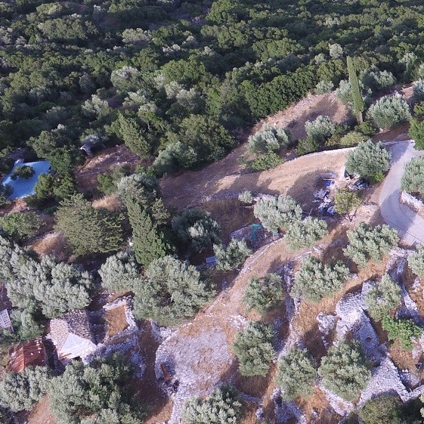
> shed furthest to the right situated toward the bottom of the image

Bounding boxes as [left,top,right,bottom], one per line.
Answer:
[50,309,107,363]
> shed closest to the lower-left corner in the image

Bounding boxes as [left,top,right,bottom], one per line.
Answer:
[7,340,52,379]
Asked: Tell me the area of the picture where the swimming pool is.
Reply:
left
